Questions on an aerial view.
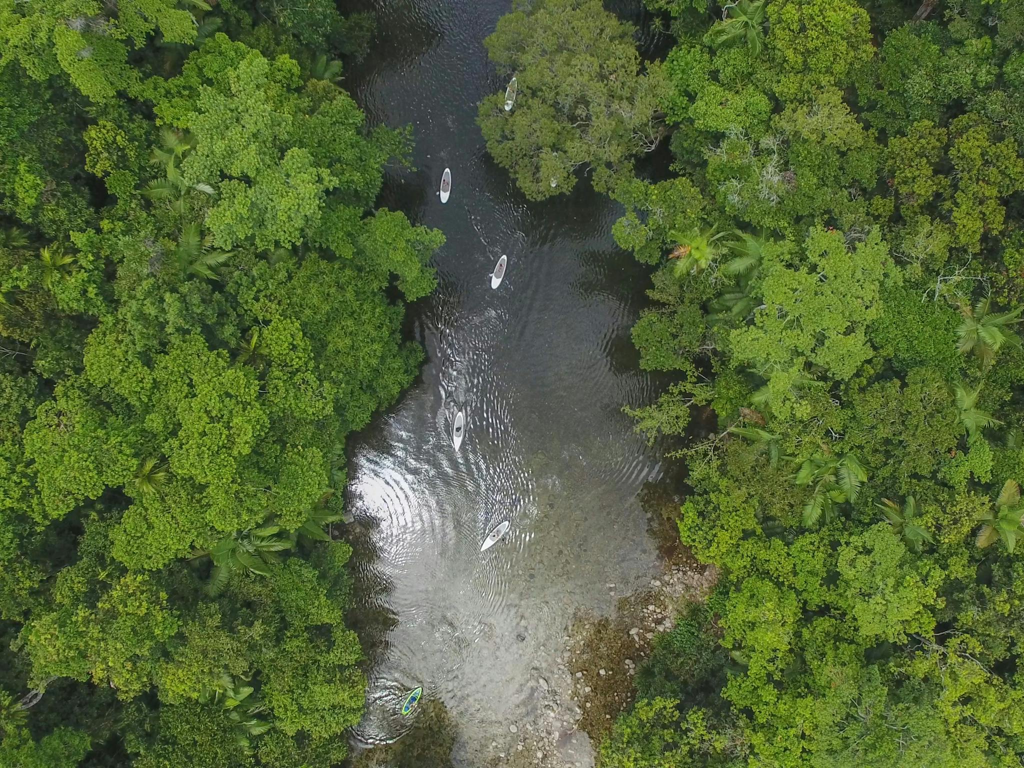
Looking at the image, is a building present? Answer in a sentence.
No, no building can be seen from above.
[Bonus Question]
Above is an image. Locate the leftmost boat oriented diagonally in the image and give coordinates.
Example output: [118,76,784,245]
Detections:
[402,688,421,715]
